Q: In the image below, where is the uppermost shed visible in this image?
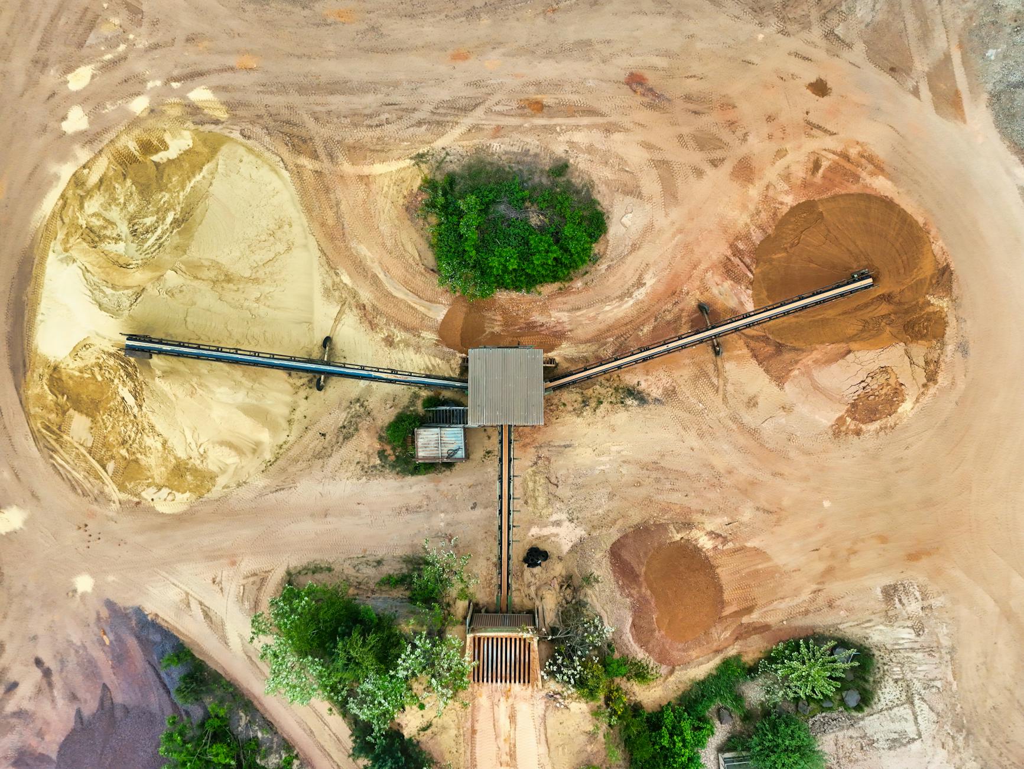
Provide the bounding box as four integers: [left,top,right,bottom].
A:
[460,342,557,427]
